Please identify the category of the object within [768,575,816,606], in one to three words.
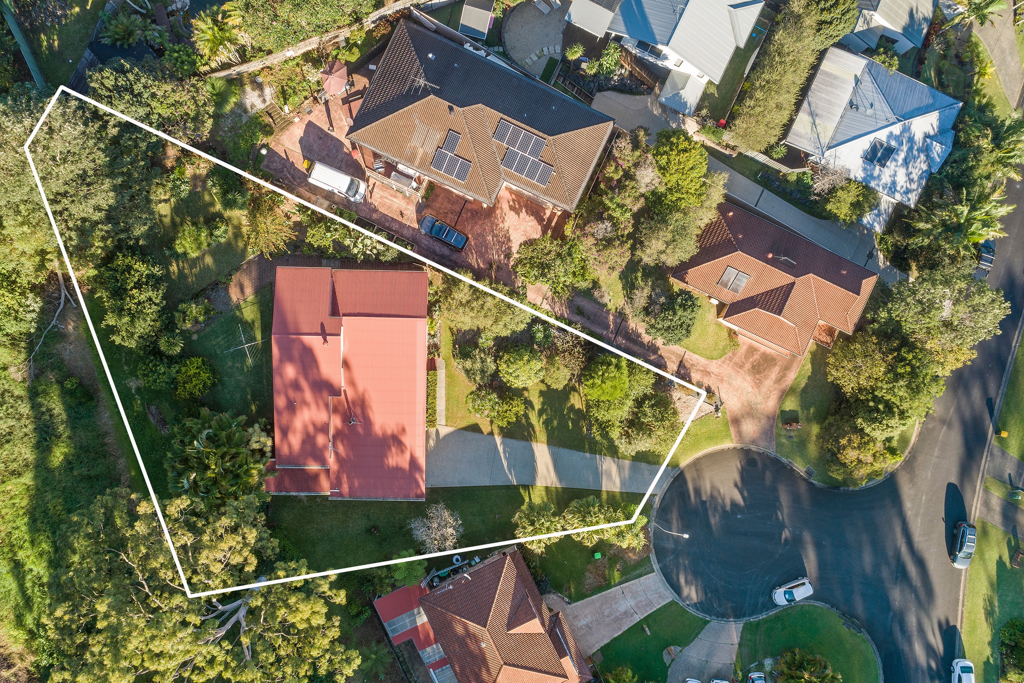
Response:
car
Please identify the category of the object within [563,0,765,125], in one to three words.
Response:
house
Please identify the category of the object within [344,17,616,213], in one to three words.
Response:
house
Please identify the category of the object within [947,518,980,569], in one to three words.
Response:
car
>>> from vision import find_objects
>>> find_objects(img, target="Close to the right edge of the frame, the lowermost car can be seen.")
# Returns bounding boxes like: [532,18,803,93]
[950,655,976,683]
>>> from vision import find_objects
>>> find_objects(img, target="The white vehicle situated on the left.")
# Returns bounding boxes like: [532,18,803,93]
[307,160,365,202]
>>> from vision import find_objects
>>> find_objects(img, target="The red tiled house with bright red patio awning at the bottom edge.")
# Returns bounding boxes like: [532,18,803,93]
[417,548,594,683]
